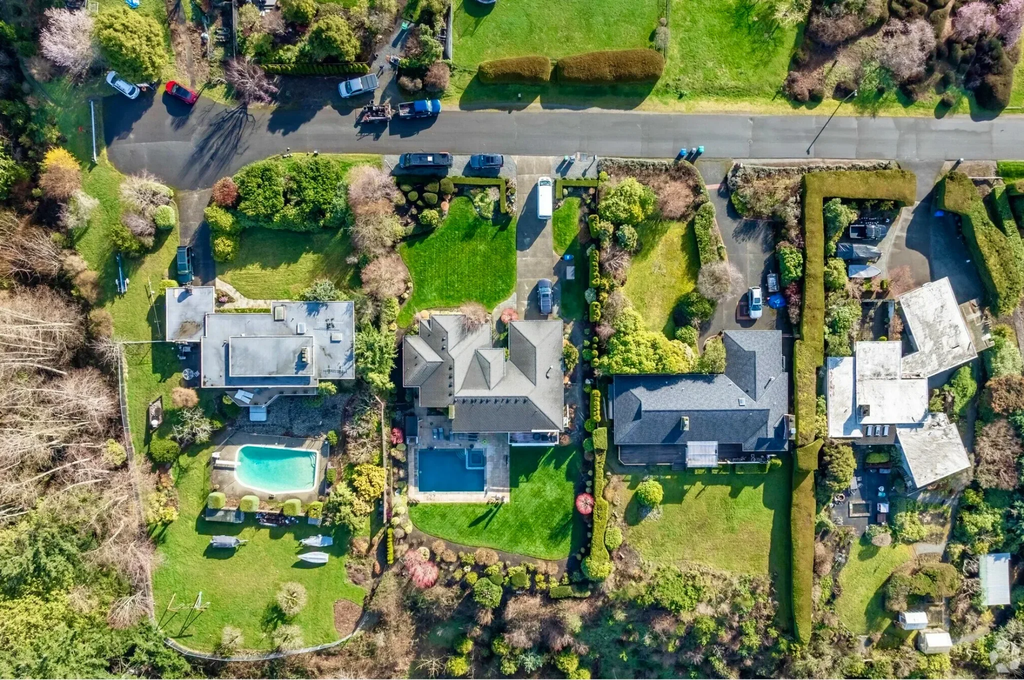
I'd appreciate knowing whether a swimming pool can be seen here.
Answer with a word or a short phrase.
Yes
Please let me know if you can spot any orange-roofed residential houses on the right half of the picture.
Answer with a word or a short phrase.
No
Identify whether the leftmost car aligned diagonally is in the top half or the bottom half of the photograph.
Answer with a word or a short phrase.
top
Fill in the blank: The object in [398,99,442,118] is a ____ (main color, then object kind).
blue vehicle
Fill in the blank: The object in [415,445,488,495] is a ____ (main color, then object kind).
blue swimming pool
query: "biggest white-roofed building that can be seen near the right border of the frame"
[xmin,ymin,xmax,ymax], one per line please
[823,277,977,488]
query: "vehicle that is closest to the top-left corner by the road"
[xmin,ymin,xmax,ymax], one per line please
[104,69,145,102]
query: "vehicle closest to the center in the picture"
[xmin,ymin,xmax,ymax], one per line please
[536,277,554,317]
